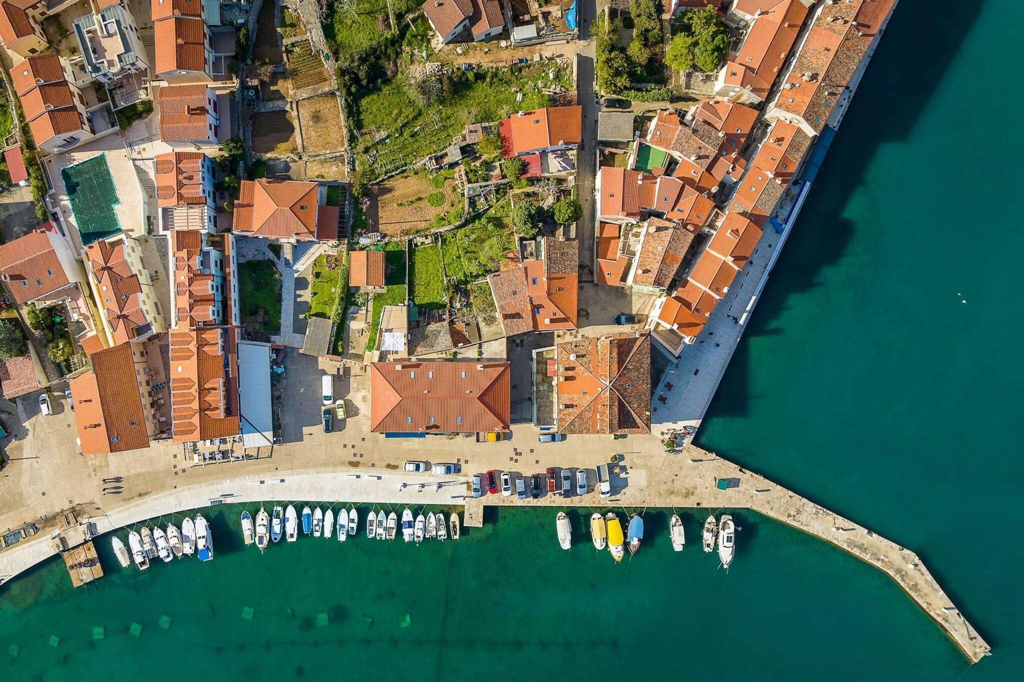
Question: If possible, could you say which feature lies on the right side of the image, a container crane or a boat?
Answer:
boat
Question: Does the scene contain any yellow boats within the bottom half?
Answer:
Yes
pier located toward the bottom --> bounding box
[64,540,106,588]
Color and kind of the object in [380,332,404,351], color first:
white tent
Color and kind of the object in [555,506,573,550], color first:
white boat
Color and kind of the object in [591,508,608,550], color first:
yellow boat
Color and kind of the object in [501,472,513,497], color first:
white vehicle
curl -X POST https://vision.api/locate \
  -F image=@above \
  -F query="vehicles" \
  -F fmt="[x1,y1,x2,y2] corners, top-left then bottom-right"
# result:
[477,432,505,443]
[561,467,571,495]
[515,476,527,499]
[64,388,74,412]
[576,469,587,495]
[12,176,34,186]
[614,313,636,325]
[38,392,54,417]
[485,471,498,495]
[335,398,347,421]
[321,375,334,404]
[530,474,542,499]
[430,464,456,475]
[598,464,611,498]
[321,407,334,433]
[538,432,562,443]
[471,473,482,497]
[501,472,513,497]
[403,461,426,473]
[545,467,556,492]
